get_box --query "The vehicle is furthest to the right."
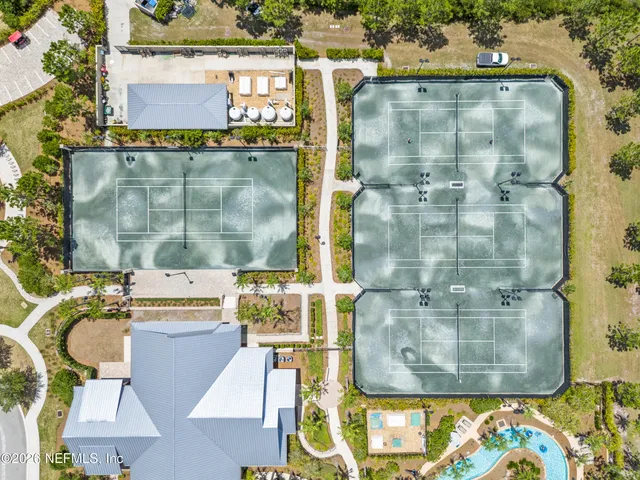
[476,51,511,65]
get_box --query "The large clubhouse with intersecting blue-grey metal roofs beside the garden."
[62,321,296,480]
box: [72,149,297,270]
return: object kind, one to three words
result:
tennis court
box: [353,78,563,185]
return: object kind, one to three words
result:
tennis court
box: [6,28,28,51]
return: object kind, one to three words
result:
car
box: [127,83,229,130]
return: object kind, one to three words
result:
shed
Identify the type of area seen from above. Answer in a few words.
sports ground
